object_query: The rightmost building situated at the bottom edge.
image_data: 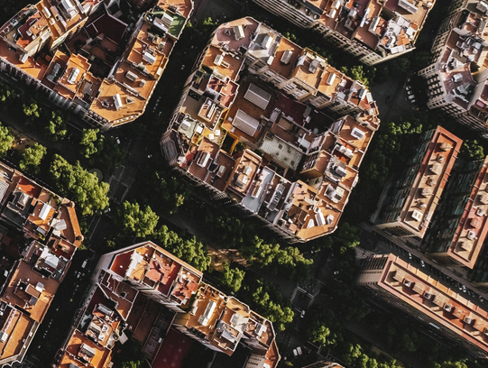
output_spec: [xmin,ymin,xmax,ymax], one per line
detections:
[354,253,488,362]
